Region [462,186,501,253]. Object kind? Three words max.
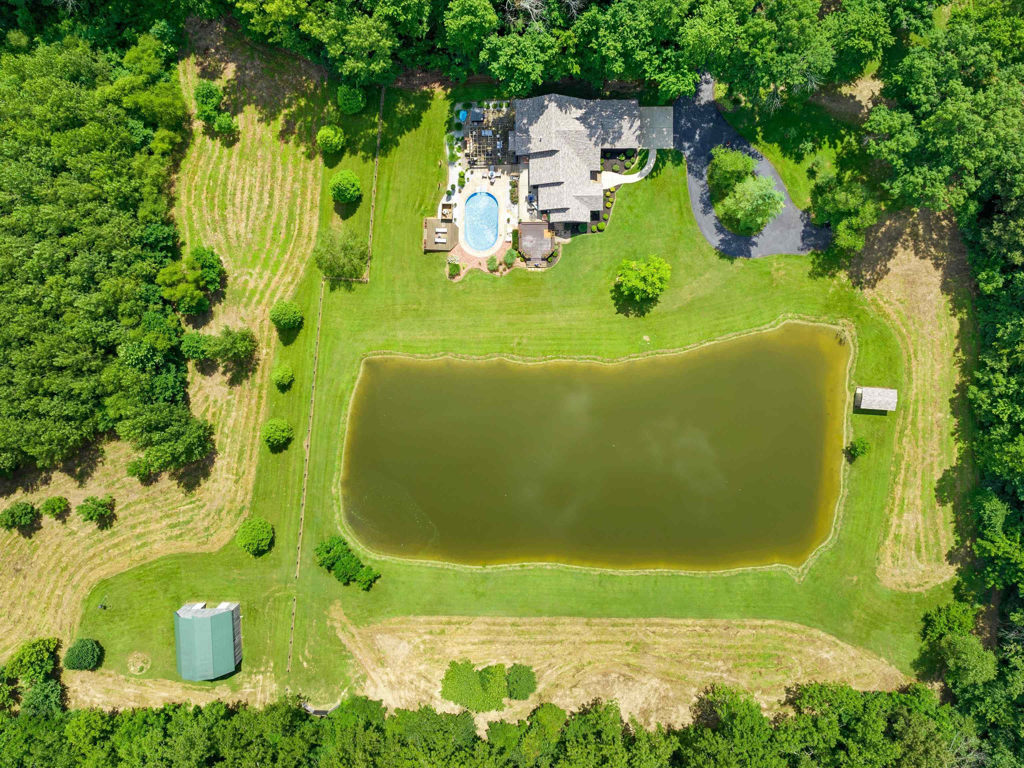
swimming pool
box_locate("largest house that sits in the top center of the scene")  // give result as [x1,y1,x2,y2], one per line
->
[508,93,640,224]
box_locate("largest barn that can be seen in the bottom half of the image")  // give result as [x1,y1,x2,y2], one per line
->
[174,603,242,681]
